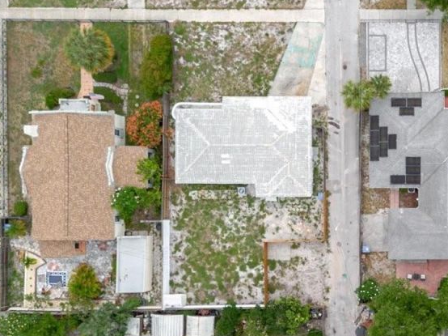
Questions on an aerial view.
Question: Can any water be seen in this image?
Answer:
No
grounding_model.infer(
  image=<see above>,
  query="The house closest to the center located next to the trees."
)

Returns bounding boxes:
[173,97,313,200]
